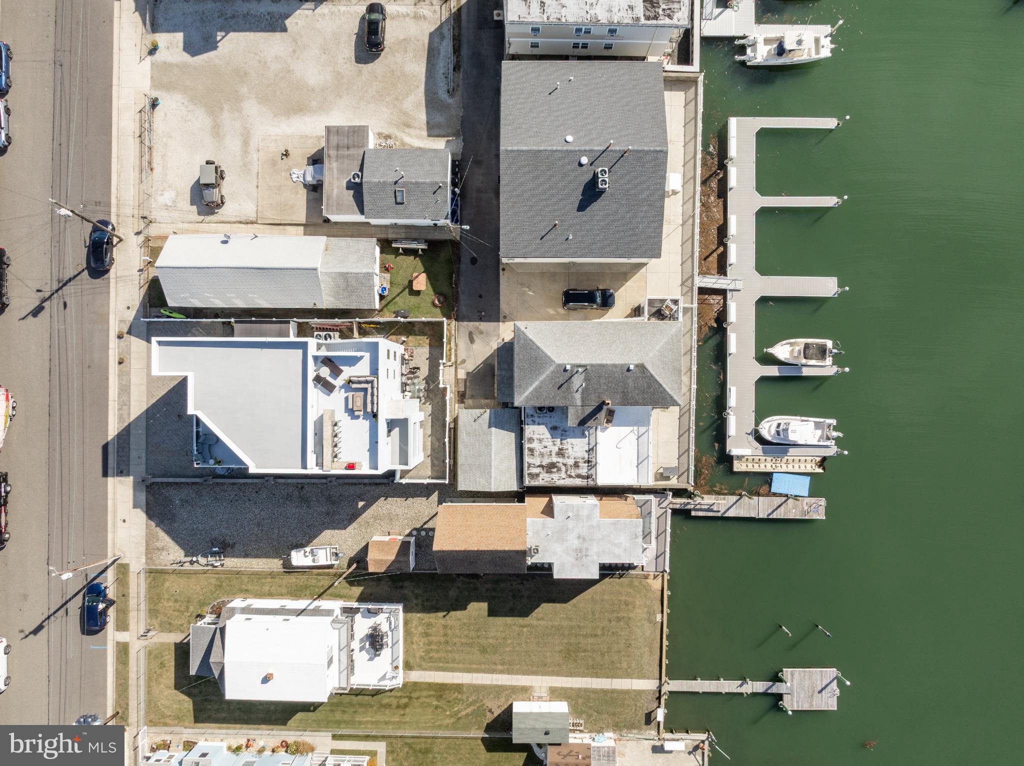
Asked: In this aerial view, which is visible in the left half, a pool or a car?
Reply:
car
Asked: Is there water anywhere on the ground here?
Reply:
Yes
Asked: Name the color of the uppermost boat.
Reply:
white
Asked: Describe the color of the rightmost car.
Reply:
black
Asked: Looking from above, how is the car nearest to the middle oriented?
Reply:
from left to right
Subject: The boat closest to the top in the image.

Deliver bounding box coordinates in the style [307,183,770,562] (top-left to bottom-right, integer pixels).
[729,9,837,69]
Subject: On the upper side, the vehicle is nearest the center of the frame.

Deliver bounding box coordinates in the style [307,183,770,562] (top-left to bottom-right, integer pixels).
[561,286,615,311]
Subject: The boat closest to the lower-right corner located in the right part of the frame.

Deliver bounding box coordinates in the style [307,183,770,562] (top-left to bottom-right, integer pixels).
[757,415,847,445]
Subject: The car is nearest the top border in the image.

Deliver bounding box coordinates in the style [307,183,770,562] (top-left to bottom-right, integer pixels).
[361,0,386,53]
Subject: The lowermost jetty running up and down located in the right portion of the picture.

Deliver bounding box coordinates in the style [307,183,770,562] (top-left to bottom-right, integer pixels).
[726,117,838,456]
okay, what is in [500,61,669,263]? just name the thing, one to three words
house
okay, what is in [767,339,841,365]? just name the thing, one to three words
boat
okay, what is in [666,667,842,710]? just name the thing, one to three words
pier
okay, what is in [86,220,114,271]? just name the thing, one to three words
car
